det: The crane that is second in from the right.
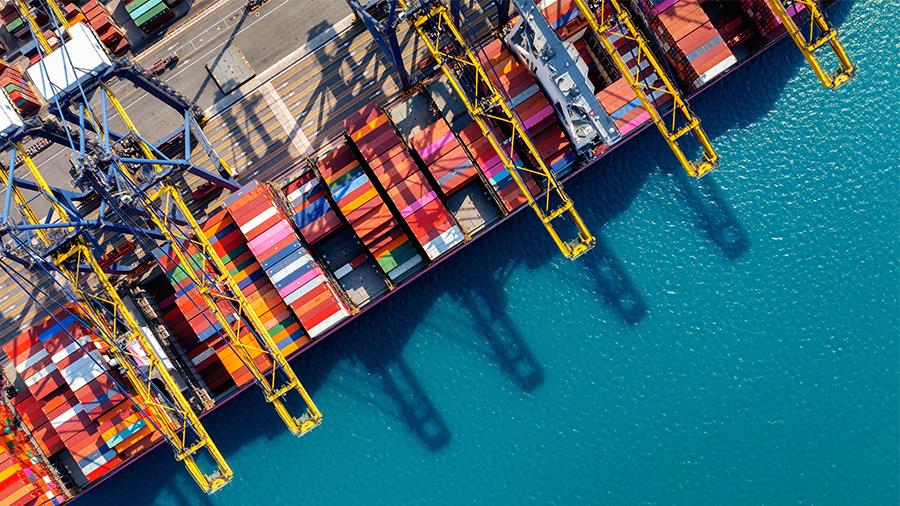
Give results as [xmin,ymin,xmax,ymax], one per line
[576,0,720,175]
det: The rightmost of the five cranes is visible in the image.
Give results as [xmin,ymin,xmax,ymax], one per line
[770,0,856,85]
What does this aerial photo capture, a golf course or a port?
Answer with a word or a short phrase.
port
